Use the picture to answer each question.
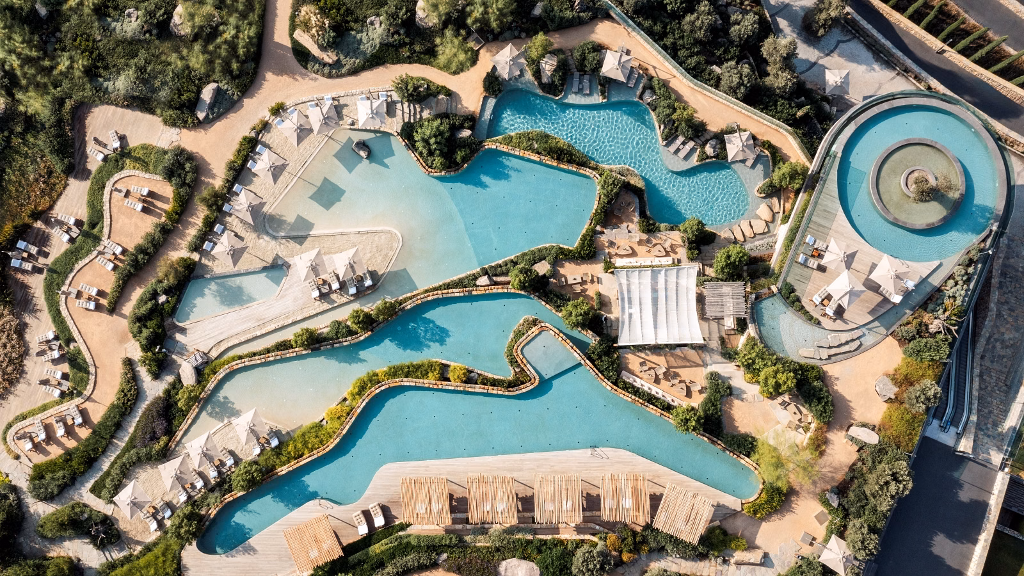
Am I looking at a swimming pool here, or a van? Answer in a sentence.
I can see a swimming pool in this picture.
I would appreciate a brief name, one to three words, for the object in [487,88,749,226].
swimming pool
